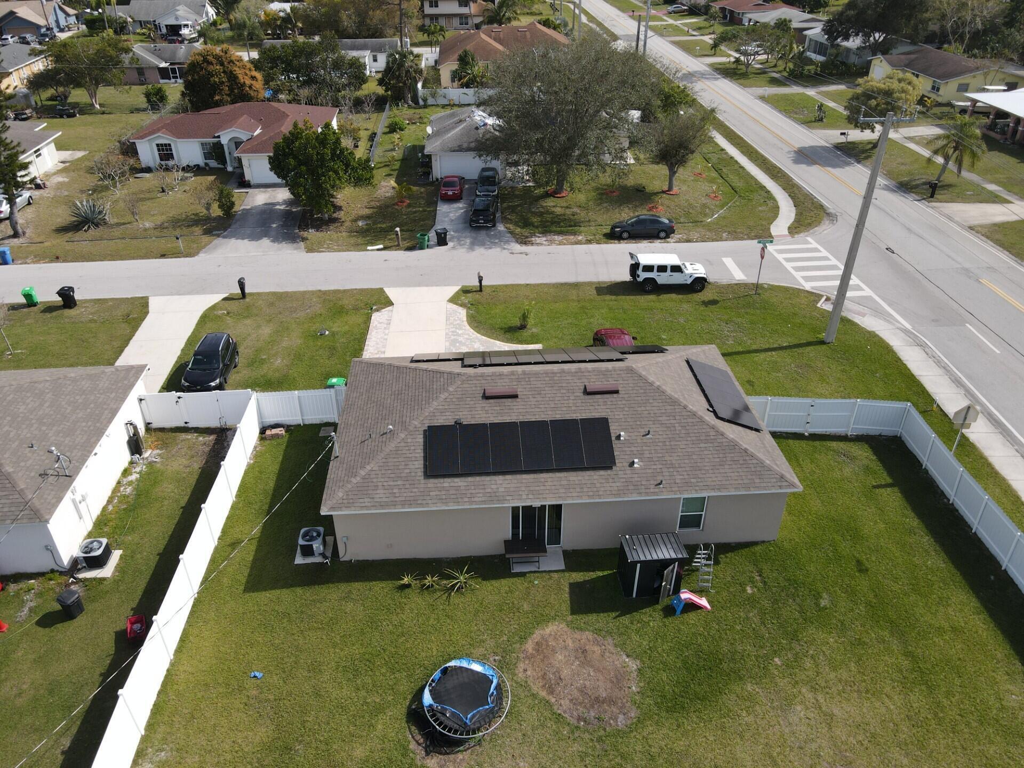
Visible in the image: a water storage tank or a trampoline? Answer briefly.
trampoline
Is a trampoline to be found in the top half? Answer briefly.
No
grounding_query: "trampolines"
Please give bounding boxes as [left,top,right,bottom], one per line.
[415,658,512,758]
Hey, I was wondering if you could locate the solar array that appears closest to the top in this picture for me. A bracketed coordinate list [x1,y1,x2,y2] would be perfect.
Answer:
[413,345,671,366]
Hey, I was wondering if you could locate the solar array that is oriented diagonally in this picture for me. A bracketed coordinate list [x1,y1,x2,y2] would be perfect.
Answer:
[687,357,765,434]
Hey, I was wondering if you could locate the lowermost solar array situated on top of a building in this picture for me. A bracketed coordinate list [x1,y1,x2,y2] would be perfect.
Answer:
[426,419,617,478]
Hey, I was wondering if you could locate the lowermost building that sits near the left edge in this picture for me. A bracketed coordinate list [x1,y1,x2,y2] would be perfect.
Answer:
[0,363,153,574]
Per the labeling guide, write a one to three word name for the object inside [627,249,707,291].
car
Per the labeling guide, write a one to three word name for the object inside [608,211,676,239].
car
